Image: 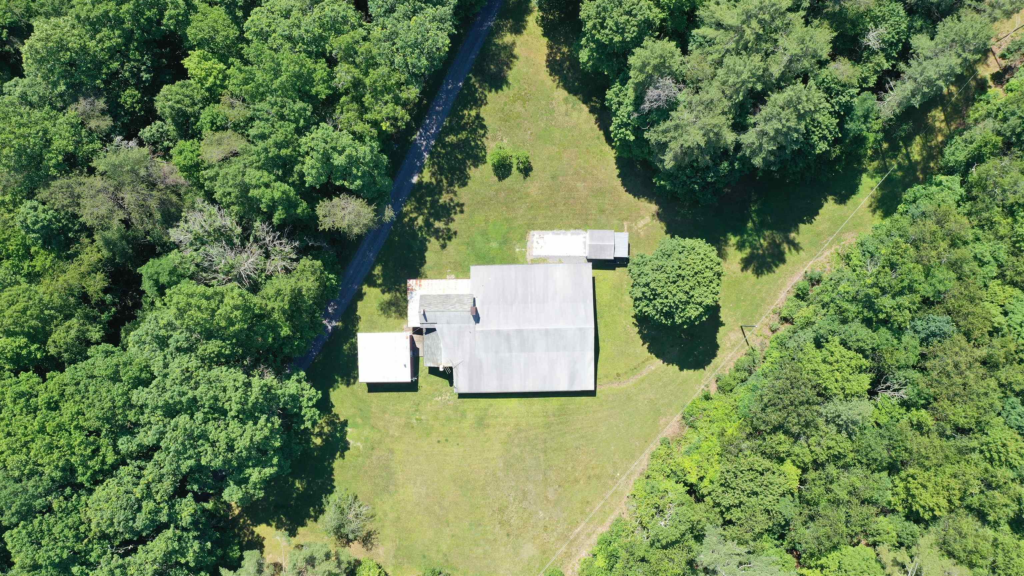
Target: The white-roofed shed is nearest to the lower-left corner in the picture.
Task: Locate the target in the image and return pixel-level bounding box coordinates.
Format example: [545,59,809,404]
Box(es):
[357,332,416,383]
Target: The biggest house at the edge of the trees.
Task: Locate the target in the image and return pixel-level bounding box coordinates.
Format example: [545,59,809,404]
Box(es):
[407,262,594,393]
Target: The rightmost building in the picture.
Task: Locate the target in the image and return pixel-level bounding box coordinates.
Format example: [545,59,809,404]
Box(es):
[586,230,628,260]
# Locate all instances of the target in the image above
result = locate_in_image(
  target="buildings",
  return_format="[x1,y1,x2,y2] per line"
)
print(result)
[357,332,416,383]
[586,230,628,260]
[407,262,594,393]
